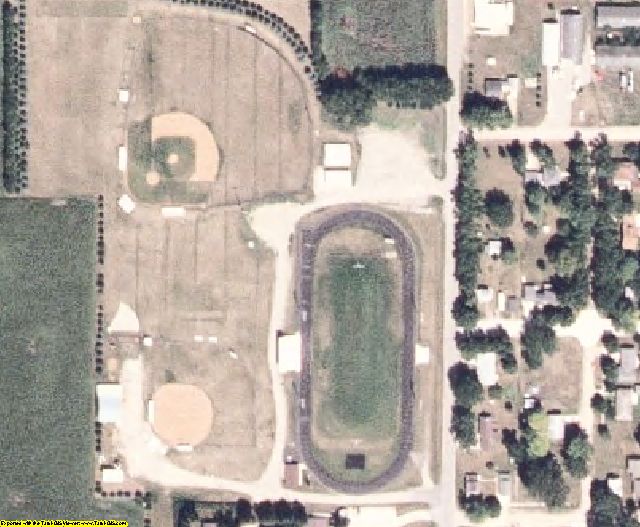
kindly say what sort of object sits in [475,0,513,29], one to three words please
building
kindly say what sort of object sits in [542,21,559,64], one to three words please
shed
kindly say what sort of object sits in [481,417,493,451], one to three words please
house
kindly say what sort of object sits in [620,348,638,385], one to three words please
house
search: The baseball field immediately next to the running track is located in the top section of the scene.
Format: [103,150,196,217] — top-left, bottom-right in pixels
[131,19,312,205]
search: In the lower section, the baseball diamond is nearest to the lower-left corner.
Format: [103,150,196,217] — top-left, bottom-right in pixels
[152,384,213,446]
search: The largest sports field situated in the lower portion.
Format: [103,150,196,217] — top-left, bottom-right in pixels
[314,222,401,479]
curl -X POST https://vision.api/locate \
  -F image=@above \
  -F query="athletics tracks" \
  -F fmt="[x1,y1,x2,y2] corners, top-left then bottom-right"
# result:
[301,208,415,491]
